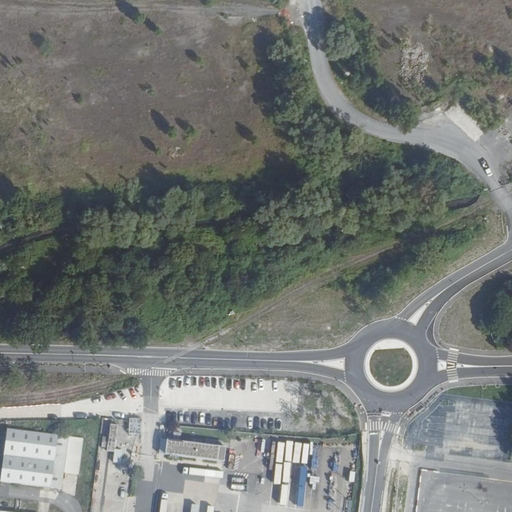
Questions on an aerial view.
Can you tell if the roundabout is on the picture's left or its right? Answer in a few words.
right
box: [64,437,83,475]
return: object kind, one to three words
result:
shed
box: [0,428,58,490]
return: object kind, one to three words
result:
building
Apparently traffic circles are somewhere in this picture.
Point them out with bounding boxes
[337,292,459,418]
